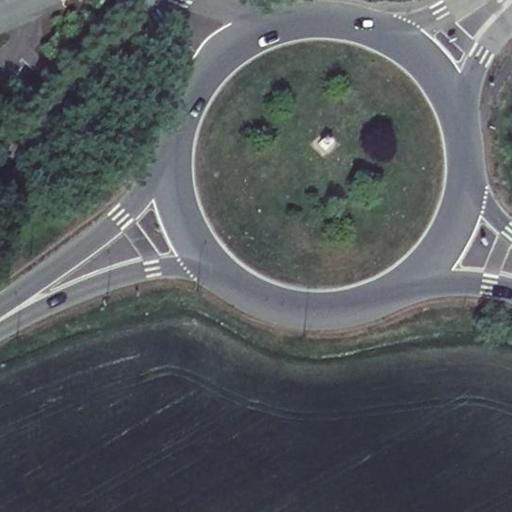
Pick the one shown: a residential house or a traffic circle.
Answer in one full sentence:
Looking from above, you can make out a traffic circle.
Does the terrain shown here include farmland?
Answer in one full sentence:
Yes, some farmland is visible.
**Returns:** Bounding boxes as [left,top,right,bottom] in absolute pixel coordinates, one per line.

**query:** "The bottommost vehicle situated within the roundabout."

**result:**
[190,96,206,116]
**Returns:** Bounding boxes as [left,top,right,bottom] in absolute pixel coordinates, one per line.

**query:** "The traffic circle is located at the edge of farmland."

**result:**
[144,2,487,328]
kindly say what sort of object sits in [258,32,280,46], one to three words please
car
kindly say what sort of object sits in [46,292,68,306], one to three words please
car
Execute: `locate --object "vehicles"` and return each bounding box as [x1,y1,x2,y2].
[46,292,68,306]
[258,32,280,46]
[492,286,512,298]
[354,18,374,28]
[190,96,206,116]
